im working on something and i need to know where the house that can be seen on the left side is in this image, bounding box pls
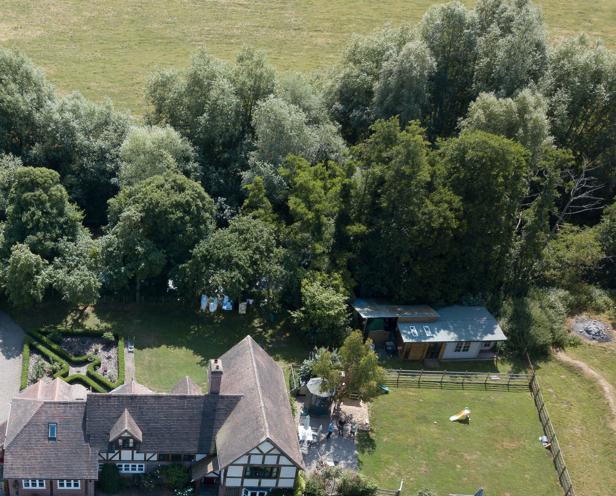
[0,334,307,496]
